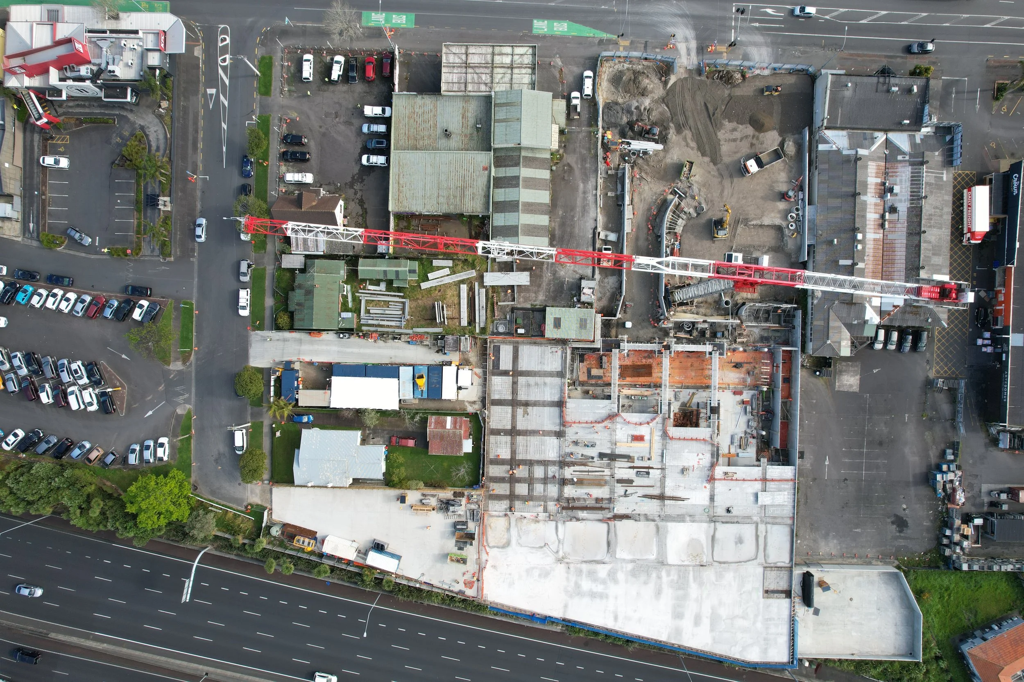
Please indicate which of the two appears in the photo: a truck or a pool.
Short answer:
truck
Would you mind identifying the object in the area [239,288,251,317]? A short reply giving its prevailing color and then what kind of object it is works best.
white vehicle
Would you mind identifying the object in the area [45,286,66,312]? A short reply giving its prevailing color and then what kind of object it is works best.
white car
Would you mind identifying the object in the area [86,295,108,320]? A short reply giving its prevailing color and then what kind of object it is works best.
red car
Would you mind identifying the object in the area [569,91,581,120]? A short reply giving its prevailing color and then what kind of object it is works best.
white vehicle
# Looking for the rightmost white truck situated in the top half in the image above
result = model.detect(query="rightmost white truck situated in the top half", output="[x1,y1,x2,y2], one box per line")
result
[962,185,990,245]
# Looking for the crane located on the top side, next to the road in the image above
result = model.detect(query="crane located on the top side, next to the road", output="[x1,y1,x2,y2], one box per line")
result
[230,216,985,312]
